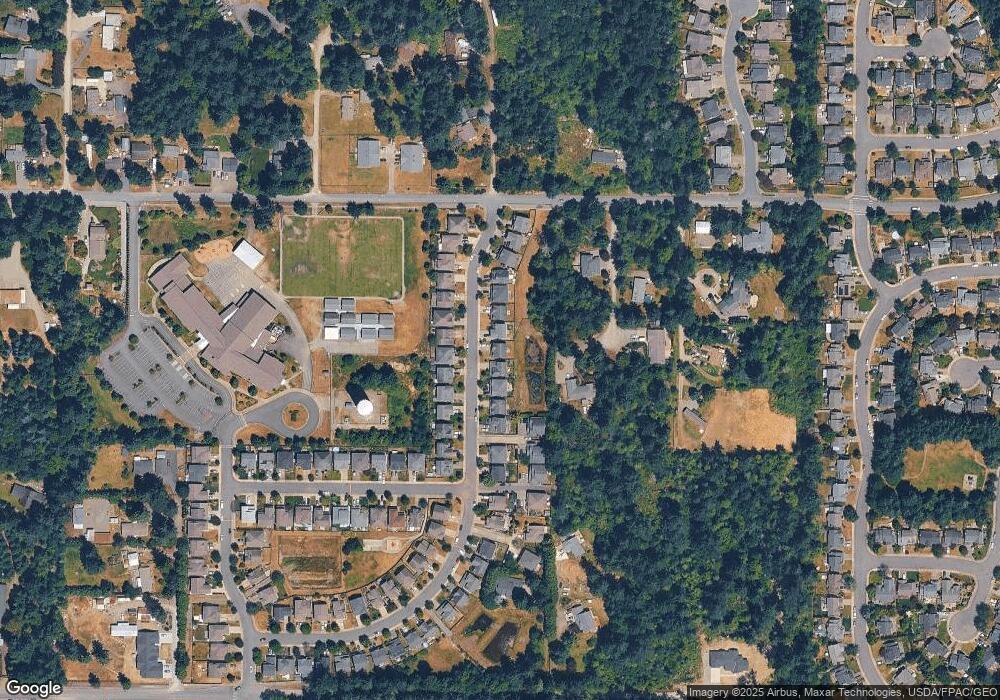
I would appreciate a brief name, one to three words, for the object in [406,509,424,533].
house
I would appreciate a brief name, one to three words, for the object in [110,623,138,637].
barn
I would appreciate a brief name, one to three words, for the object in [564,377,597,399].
house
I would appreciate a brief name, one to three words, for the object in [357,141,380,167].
barn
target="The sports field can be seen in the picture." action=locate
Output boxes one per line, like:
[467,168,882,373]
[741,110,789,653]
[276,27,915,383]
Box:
[278,215,406,302]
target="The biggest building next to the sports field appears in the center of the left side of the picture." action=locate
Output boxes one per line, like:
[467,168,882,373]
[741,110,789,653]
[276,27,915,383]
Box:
[148,253,286,391]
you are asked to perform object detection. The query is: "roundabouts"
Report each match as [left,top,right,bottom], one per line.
[229,388,321,443]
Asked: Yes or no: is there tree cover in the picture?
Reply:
Yes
